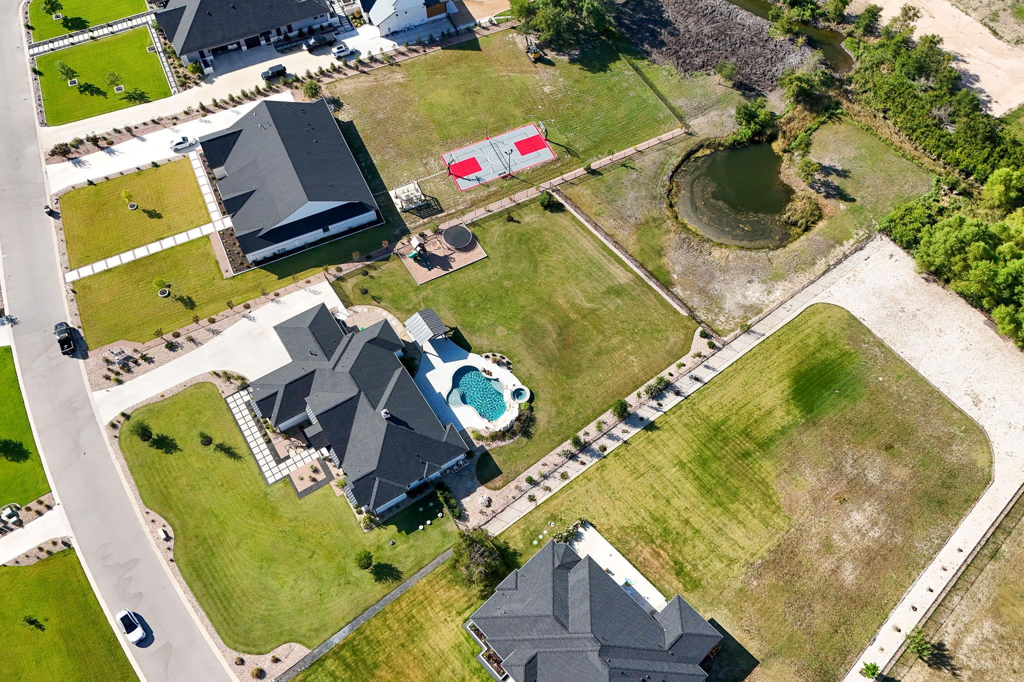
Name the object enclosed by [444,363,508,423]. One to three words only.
swimming pool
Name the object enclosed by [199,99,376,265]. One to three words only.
house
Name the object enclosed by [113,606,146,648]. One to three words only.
car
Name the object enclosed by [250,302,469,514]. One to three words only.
building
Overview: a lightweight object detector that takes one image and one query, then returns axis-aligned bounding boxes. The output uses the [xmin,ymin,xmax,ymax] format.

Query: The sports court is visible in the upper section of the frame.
[441,123,556,191]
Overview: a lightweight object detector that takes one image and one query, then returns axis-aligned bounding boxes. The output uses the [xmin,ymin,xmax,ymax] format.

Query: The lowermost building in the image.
[469,540,723,682]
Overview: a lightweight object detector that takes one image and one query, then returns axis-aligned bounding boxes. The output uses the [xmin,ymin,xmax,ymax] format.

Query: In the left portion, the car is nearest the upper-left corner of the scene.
[167,137,196,154]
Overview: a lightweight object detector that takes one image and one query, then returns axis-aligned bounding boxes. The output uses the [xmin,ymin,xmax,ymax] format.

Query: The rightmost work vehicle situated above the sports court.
[526,30,542,61]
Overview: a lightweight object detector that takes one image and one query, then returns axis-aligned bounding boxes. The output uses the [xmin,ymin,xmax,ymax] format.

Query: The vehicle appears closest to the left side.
[50,323,77,360]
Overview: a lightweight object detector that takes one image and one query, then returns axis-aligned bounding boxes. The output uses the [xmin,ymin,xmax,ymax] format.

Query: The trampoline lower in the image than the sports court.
[442,228,473,252]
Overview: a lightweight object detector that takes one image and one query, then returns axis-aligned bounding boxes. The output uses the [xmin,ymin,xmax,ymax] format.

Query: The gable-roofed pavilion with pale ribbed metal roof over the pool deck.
[404,308,449,353]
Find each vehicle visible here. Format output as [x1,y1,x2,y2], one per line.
[330,43,356,58]
[260,62,284,81]
[526,30,542,61]
[50,323,77,360]
[303,32,335,51]
[167,137,196,154]
[113,606,146,648]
